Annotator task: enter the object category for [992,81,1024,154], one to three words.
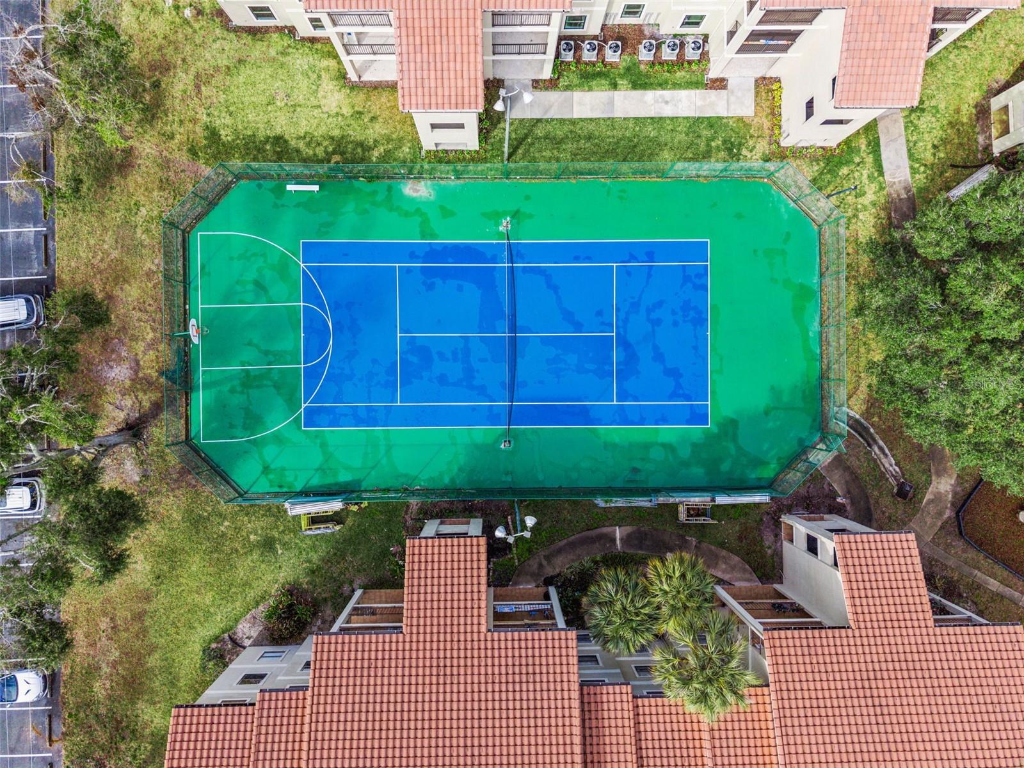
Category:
building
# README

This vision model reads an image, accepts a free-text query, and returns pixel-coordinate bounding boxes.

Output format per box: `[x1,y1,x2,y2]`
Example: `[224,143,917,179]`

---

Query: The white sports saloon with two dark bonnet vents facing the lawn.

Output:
[0,663,55,706]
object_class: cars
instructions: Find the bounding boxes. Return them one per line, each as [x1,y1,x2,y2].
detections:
[0,477,49,513]
[0,295,49,333]
[0,663,55,706]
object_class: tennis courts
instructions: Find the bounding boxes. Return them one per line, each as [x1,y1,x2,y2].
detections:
[189,181,820,494]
